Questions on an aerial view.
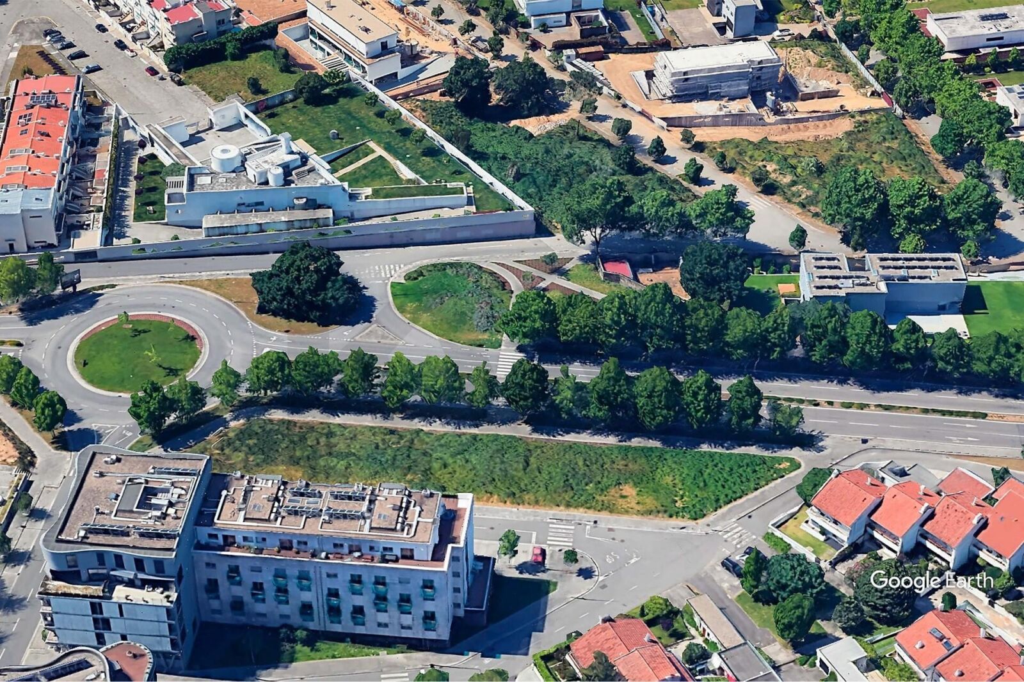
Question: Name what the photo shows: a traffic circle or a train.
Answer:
traffic circle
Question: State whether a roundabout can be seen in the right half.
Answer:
No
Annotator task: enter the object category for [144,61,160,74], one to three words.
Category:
vehicle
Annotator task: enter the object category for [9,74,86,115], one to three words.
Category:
house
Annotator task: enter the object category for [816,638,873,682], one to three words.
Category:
building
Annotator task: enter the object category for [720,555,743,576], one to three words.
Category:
car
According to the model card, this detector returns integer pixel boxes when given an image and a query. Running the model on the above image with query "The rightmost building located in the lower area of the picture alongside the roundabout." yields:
[192,464,474,644]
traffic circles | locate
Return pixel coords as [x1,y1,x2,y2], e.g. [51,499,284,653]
[15,286,258,430]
